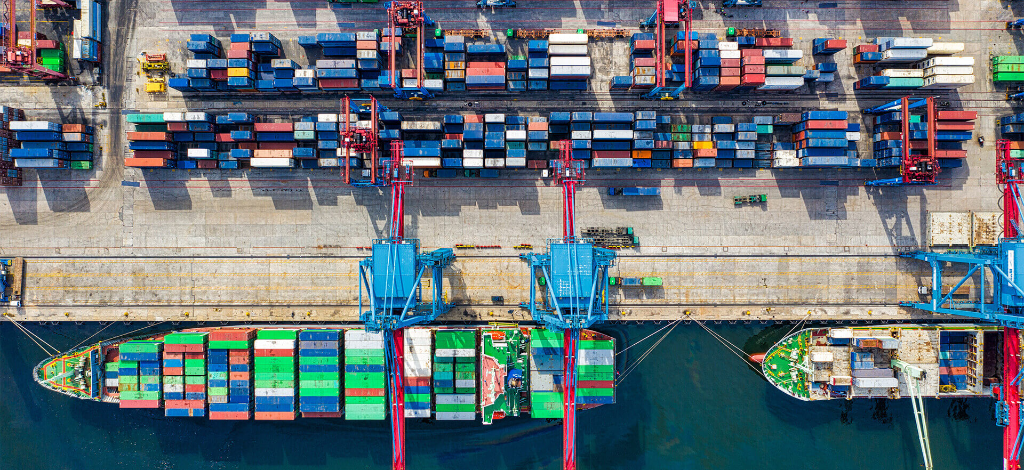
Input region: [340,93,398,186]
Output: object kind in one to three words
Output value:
container crane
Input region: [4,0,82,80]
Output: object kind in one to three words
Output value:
container crane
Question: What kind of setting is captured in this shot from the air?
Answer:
port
